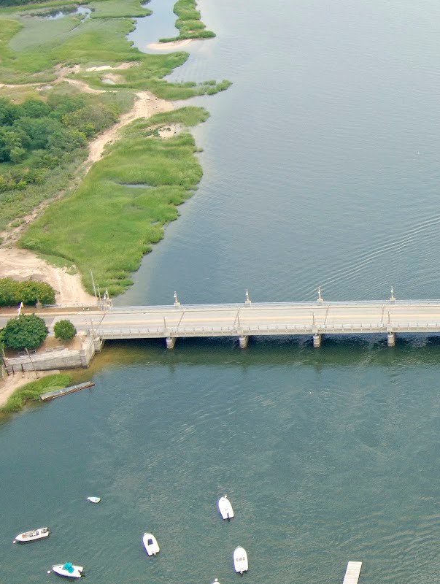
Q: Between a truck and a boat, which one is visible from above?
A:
boat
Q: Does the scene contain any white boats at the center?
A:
No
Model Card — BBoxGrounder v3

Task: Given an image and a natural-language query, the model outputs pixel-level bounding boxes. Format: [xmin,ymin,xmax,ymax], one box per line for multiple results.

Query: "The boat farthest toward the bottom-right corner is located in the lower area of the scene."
[233,543,248,576]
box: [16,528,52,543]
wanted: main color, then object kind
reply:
white boat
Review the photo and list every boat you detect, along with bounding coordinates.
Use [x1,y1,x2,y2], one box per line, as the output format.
[52,561,87,579]
[219,494,234,522]
[233,543,248,576]
[142,532,161,560]
[16,528,52,543]
[89,497,101,504]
